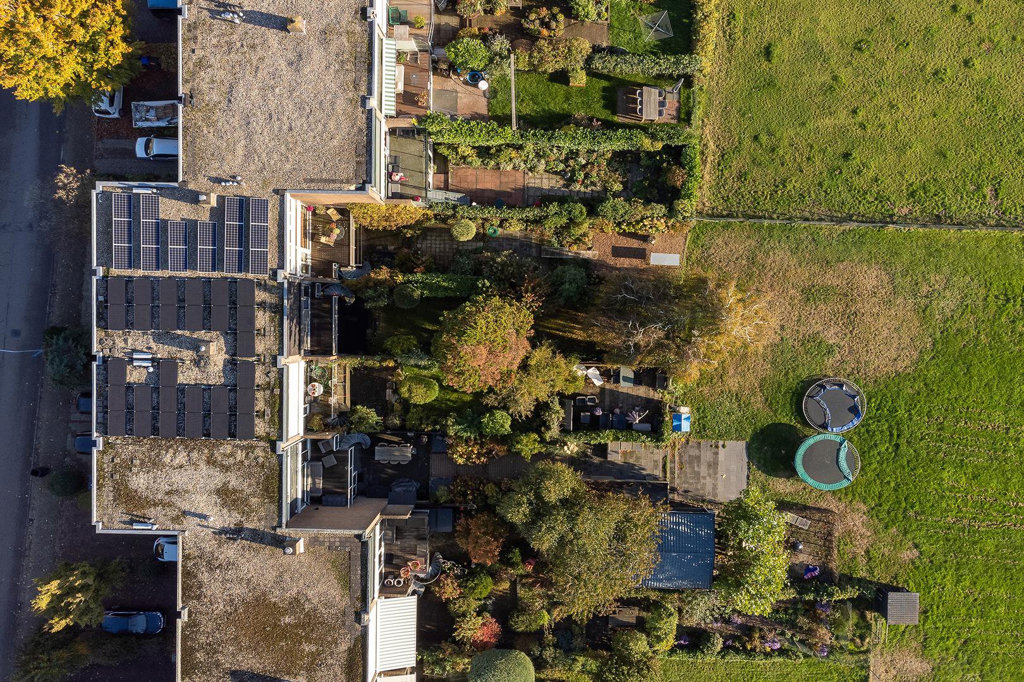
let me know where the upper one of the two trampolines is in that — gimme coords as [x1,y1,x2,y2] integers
[802,374,866,435]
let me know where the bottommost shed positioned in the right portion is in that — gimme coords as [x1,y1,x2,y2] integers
[877,586,918,625]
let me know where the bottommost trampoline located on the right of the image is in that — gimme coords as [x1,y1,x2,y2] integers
[790,428,860,494]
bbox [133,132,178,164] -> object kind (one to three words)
car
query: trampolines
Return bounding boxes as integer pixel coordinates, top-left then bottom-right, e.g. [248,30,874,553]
[790,428,860,494]
[802,374,866,435]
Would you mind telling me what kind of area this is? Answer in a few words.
residential area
